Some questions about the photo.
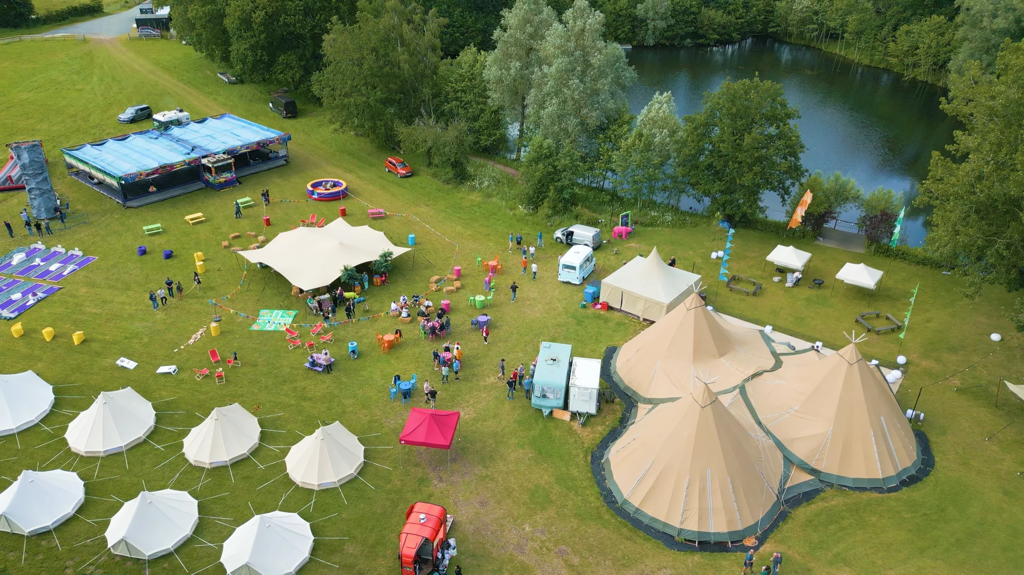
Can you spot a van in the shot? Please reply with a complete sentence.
Yes, the frame does contain a van.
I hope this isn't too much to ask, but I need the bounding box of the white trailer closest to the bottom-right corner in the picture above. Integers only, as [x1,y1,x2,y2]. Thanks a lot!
[566,356,603,423]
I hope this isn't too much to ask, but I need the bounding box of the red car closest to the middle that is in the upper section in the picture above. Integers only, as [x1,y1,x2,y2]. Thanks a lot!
[383,154,414,176]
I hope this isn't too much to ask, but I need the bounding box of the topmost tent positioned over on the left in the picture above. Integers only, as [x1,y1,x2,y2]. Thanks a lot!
[216,218,441,338]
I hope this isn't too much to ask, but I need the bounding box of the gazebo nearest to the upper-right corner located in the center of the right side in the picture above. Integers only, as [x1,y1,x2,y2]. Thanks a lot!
[830,263,883,310]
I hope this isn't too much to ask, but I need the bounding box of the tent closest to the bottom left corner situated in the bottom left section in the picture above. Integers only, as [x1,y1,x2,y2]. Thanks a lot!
[0,457,123,558]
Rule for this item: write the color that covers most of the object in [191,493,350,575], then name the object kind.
white tent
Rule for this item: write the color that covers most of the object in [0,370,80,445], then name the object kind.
white tent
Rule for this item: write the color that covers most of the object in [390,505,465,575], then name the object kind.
red trailer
